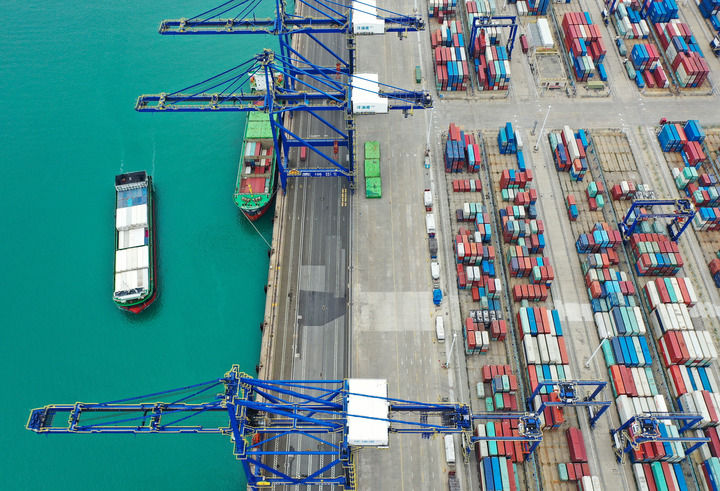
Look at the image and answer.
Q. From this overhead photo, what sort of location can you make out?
port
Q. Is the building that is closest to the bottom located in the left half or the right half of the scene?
right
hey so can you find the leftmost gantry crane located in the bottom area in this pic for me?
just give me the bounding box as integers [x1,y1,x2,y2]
[22,365,473,491]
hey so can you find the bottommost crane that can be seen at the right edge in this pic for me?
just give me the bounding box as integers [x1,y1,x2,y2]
[612,410,719,468]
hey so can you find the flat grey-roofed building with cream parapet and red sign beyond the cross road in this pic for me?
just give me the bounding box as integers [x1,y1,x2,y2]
[529,59,567,94]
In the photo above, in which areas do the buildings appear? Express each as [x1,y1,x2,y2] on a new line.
[529,59,567,94]
[532,23,553,55]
